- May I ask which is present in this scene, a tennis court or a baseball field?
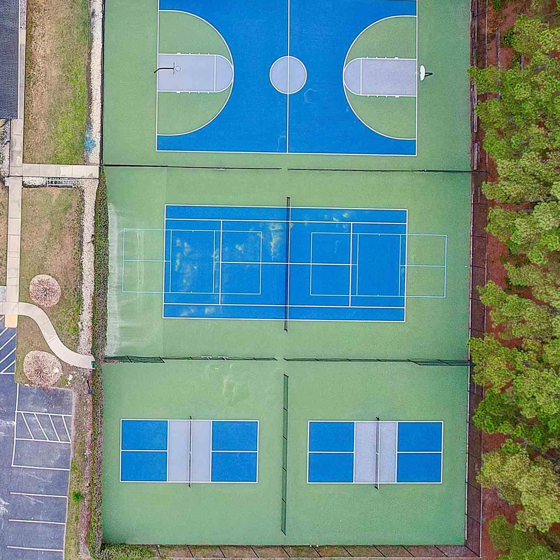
tennis court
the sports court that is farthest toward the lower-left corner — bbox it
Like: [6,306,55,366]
[102,360,284,547]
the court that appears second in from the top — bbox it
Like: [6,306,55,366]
[105,166,470,361]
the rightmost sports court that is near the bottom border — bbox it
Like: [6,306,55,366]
[282,361,467,547]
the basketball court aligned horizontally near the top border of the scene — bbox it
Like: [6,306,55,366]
[106,0,472,170]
